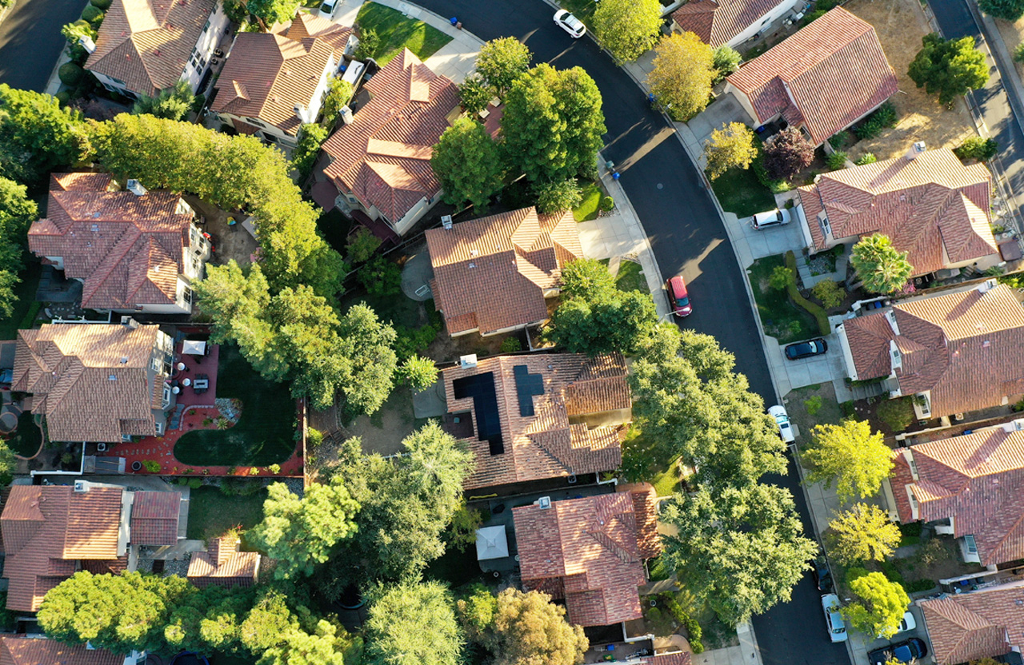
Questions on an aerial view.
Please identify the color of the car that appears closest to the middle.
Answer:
red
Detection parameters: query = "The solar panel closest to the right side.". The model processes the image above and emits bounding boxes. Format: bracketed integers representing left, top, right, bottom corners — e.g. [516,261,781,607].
[514,364,545,416]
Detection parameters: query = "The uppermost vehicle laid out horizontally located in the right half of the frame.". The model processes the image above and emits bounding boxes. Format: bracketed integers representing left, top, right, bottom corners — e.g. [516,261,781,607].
[749,205,793,230]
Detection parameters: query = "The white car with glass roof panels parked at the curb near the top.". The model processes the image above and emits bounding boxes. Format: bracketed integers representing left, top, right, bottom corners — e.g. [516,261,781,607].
[550,7,587,41]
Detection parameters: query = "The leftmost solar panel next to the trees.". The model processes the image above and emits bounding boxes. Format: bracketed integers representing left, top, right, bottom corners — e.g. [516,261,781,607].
[452,372,503,456]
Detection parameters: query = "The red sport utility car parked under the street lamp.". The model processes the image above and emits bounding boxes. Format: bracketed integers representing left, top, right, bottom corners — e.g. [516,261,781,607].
[666,274,693,318]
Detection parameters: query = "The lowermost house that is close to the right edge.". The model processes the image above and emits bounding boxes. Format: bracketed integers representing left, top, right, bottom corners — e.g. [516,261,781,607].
[907,580,1024,665]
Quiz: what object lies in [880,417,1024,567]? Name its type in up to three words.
house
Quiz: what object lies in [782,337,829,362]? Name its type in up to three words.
car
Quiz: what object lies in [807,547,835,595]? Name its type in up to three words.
car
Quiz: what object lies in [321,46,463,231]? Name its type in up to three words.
house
